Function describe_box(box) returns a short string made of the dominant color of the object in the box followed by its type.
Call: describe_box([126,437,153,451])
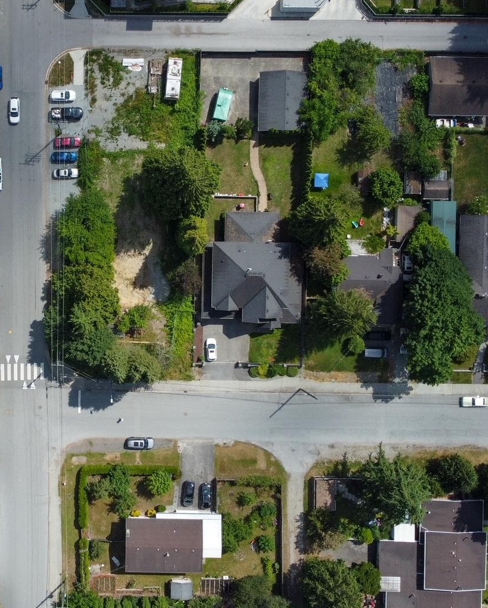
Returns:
gray vehicle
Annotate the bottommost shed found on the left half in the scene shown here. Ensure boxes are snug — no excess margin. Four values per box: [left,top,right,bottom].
[170,578,192,600]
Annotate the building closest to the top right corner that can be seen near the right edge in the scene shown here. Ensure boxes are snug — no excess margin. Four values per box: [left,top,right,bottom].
[424,56,488,117]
